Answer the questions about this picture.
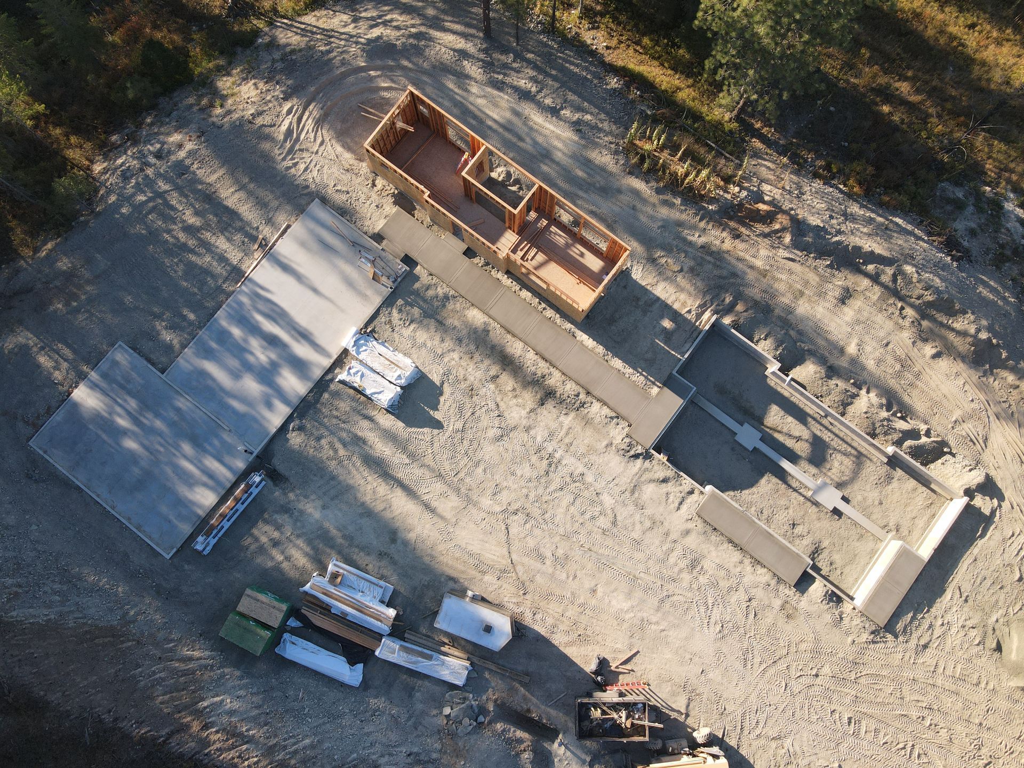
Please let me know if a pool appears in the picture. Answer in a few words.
No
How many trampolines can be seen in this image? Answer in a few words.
0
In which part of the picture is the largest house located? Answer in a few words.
top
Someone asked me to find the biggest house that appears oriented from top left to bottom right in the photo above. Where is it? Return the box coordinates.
[363,89,630,323]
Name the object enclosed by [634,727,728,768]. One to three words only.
work vehicle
